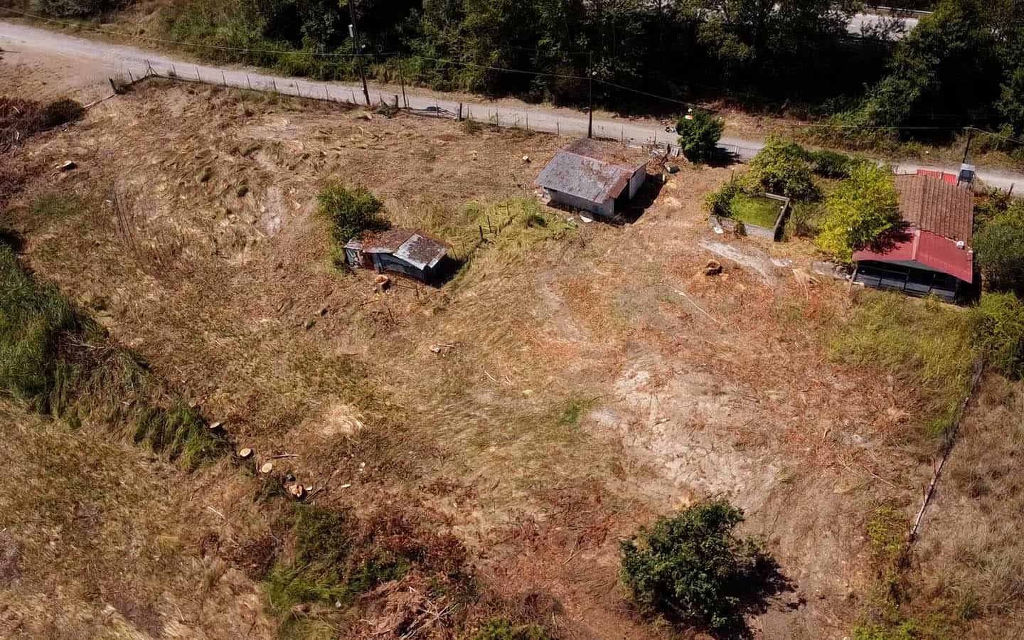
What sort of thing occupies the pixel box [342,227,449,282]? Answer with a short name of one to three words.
shed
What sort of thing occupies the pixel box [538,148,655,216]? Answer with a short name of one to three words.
shed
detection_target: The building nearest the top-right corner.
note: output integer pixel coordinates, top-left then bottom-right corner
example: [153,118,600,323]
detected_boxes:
[852,166,976,307]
